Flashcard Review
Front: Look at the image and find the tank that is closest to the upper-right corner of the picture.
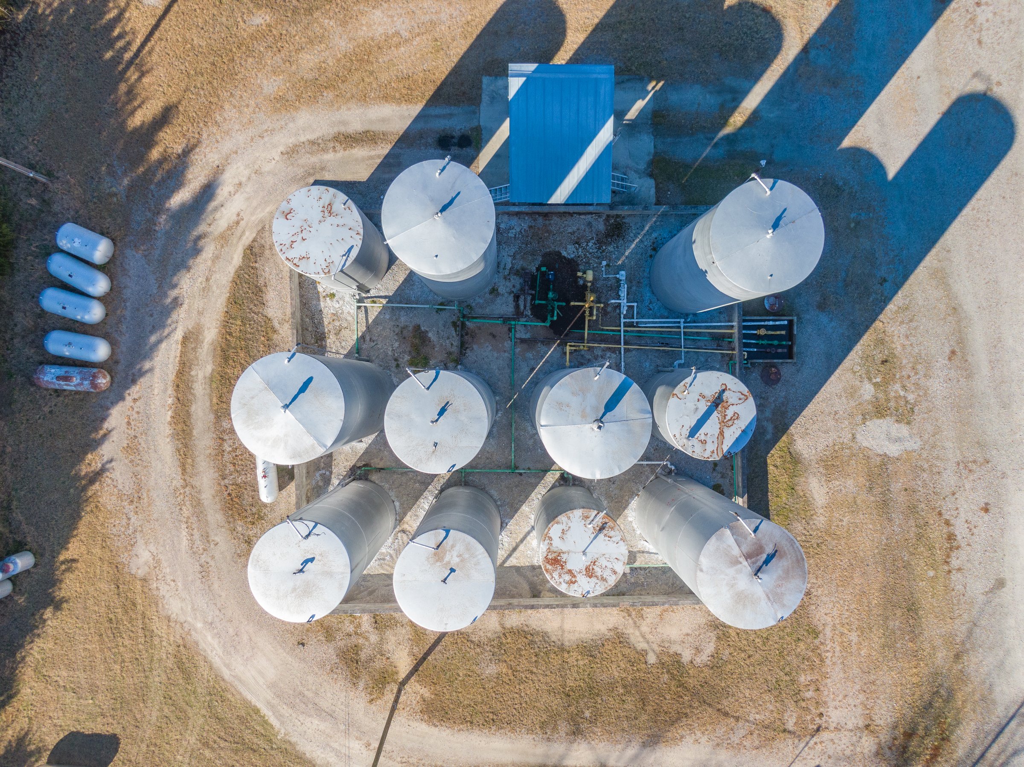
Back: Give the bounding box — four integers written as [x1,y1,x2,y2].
[649,170,825,317]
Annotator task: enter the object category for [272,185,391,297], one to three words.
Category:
storage tank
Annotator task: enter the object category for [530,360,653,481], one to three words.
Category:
storage tank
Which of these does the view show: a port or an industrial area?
industrial area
